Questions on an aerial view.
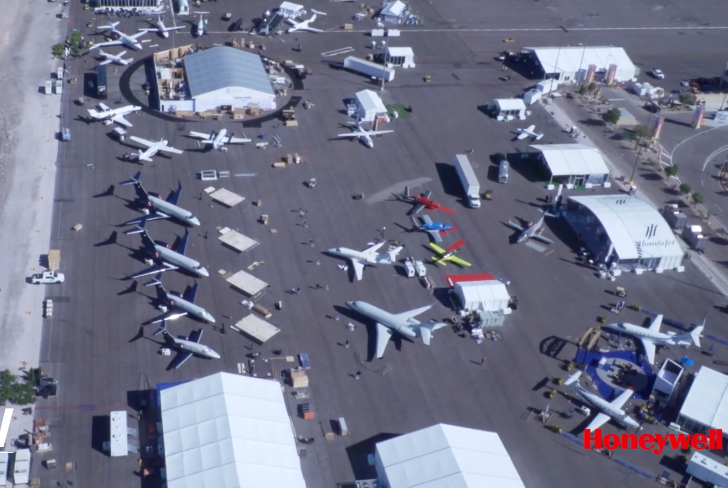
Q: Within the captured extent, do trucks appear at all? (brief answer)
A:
Yes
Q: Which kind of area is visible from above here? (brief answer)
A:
airport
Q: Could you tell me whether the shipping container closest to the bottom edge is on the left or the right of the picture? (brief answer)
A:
right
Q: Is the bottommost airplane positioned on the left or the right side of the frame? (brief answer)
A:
right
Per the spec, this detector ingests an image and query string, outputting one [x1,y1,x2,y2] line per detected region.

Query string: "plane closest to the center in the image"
[325,239,410,283]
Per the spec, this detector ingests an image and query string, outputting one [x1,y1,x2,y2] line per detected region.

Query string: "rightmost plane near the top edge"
[287,6,327,33]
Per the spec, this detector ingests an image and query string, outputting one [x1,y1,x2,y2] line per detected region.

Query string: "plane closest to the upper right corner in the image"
[515,113,557,134]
